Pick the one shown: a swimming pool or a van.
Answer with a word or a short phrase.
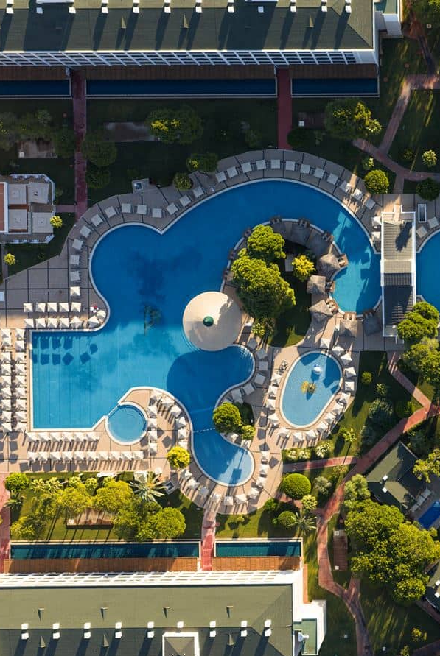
swimming pool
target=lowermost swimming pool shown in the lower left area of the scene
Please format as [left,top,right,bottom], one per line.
[9,542,199,559]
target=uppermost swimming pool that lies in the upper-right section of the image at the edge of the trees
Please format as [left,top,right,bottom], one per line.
[290,78,379,97]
